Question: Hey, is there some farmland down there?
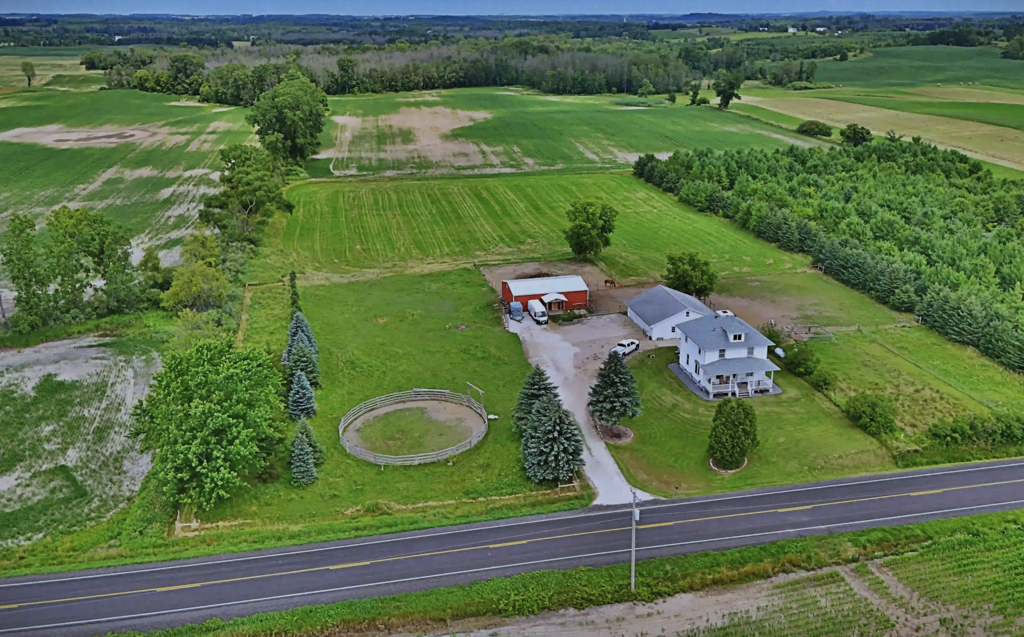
Yes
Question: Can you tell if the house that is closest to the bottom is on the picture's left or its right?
right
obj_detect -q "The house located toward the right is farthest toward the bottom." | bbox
[675,313,783,400]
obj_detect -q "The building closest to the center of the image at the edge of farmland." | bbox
[505,276,590,315]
